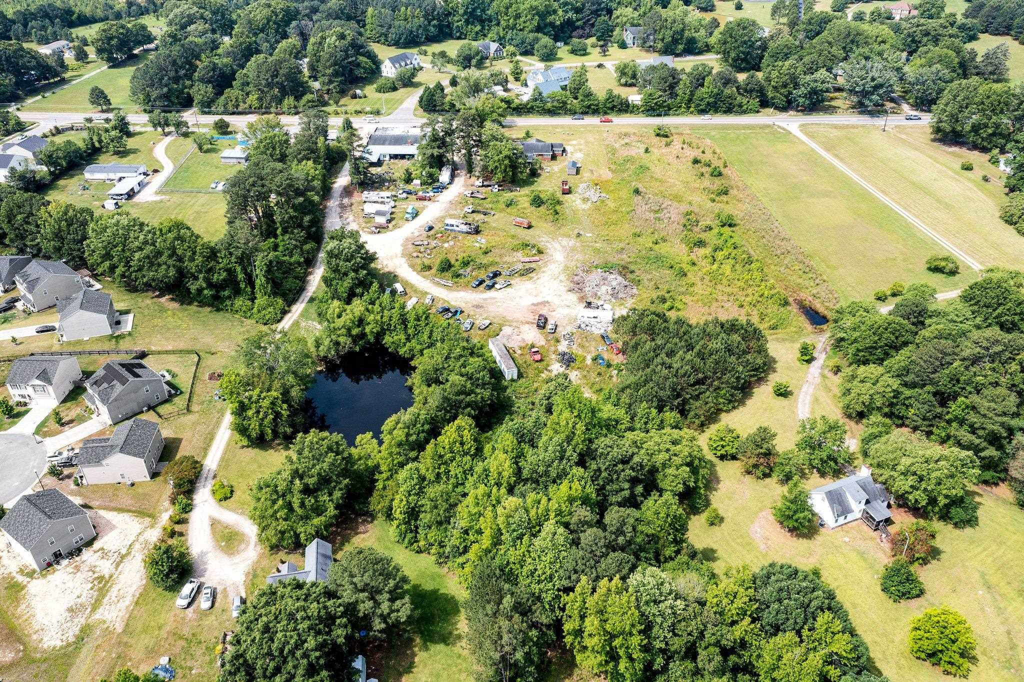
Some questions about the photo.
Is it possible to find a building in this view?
Yes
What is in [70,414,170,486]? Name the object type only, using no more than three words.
house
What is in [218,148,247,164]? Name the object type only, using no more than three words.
shed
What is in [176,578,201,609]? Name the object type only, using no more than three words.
truck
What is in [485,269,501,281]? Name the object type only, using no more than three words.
vehicle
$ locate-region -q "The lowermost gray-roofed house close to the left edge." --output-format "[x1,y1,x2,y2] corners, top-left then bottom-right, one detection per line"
[3,491,96,571]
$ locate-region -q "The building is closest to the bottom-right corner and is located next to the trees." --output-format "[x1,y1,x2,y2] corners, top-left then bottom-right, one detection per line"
[803,451,903,532]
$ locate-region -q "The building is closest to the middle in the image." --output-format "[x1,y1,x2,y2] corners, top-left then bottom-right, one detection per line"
[578,305,615,328]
